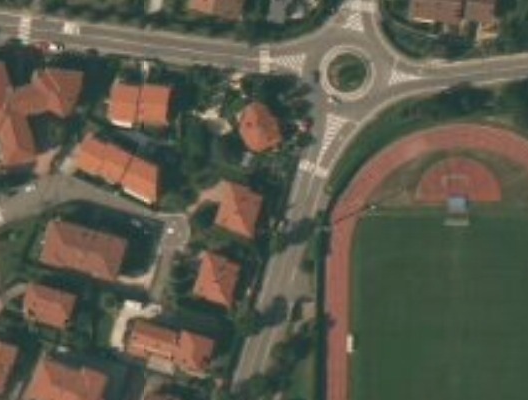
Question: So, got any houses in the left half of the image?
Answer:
Yes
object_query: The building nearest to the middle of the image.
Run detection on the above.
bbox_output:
[215,180,263,240]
